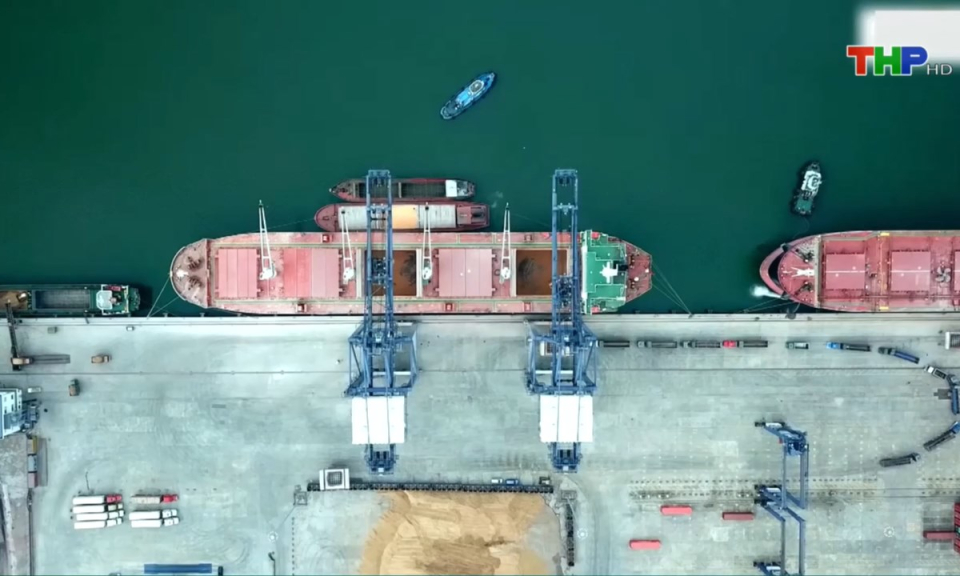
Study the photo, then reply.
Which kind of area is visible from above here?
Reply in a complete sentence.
It's a port.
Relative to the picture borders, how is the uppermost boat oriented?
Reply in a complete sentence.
I'd say the uppermost boat is aligned on a diagonal in the picture.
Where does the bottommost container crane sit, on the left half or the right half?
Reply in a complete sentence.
It is on the right.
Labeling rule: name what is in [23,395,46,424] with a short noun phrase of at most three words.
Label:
work vehicle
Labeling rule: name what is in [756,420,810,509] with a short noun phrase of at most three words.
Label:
container crane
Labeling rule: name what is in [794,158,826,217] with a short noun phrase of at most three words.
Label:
boat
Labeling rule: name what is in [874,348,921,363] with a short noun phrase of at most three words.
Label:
vehicle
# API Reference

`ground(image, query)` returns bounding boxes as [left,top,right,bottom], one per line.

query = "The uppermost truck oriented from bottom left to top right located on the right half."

[922,421,960,451]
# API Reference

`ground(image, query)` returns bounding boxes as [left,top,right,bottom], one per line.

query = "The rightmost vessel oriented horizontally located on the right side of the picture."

[746,230,960,314]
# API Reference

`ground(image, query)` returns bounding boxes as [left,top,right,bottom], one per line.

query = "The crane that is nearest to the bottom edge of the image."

[755,497,809,576]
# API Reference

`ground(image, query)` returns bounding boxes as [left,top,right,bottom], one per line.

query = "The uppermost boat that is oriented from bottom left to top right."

[438,68,497,122]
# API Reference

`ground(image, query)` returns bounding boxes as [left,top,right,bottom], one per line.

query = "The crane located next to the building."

[3,296,34,372]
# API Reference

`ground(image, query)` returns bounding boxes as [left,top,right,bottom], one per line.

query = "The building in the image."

[0,387,29,445]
